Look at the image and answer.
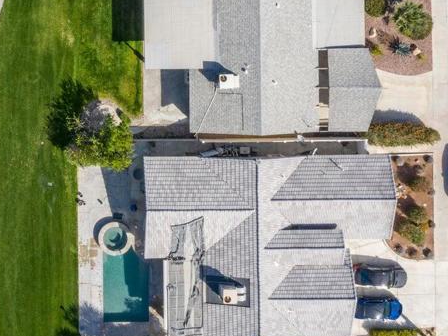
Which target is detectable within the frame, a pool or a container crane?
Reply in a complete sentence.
There is a pool in the scene.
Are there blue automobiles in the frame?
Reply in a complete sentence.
Yes, a blue automobile appears in the view.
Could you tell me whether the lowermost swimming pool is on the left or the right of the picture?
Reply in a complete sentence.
The lowermost swimming pool appears in the left half of the scene.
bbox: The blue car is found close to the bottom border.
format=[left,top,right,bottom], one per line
[354,295,402,323]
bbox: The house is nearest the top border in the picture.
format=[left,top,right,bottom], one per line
[140,0,381,135]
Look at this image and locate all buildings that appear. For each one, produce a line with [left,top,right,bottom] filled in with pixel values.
[143,155,397,336]
[140,0,381,135]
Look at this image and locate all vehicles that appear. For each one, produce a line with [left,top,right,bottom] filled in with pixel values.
[354,295,402,323]
[351,262,407,290]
